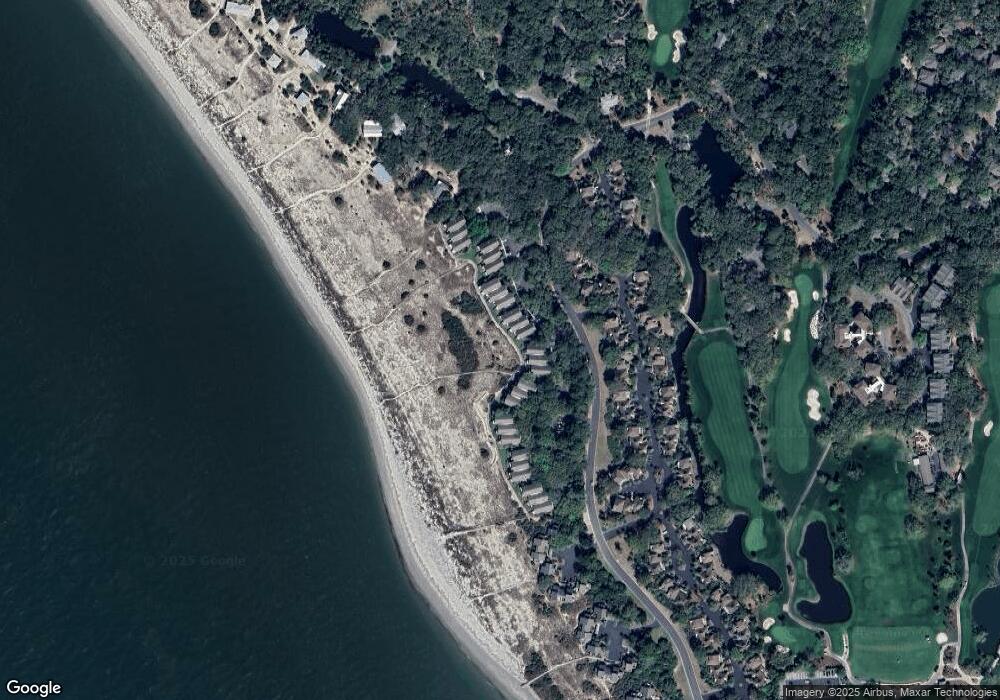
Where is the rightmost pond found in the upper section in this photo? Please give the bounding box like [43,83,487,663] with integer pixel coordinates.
[698,121,743,203]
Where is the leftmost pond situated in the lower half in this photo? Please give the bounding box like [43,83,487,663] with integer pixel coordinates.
[713,515,781,590]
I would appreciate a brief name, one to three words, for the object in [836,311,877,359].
house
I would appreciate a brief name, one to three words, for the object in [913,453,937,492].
building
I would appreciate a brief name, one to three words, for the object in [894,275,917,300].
building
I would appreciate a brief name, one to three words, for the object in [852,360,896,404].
house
